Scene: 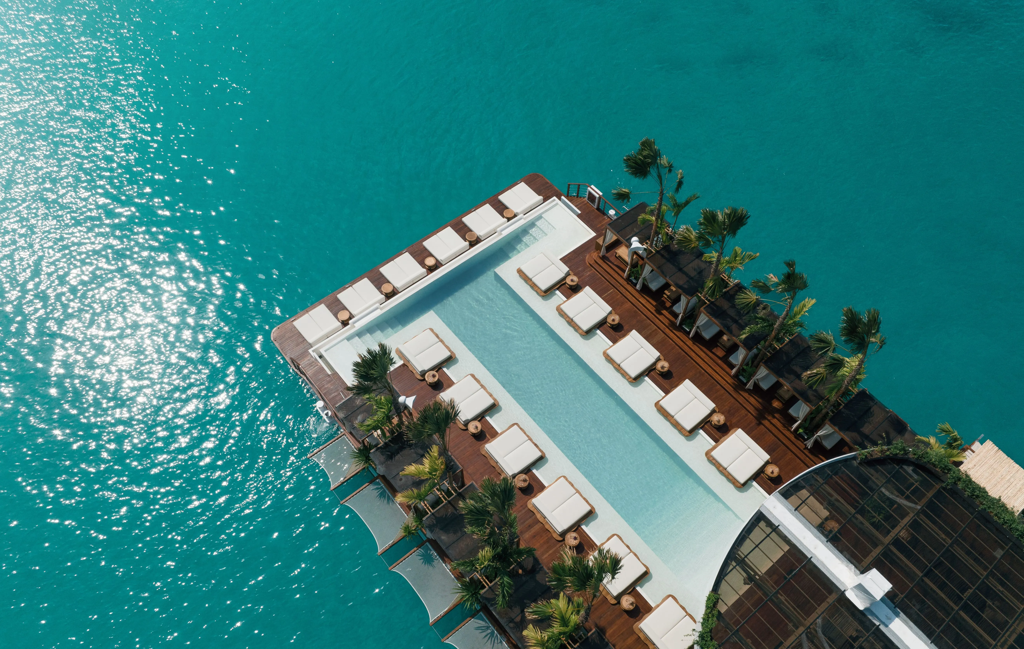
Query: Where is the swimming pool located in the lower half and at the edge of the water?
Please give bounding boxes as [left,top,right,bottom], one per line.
[309,195,773,623]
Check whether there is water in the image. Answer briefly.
Yes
